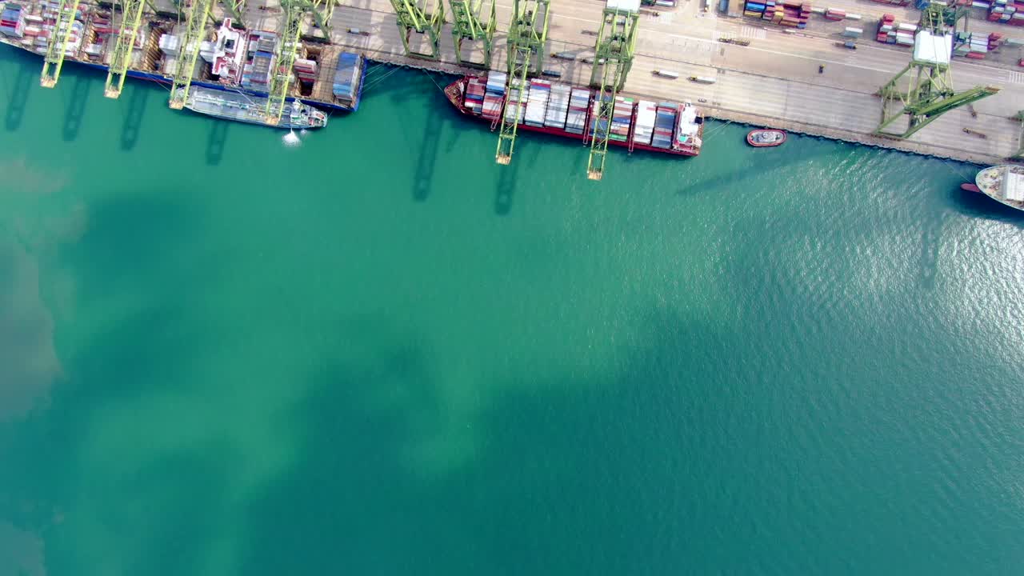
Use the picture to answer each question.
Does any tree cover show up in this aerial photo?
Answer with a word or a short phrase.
No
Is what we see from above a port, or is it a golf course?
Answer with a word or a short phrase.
port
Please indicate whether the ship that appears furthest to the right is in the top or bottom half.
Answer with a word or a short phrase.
top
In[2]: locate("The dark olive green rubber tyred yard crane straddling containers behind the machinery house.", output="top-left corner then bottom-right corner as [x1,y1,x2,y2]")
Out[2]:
[951,4,985,59]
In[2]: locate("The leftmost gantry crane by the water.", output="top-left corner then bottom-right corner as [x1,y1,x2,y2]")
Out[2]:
[36,0,142,88]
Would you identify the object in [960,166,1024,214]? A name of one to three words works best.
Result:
ship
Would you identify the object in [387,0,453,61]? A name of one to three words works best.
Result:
container crane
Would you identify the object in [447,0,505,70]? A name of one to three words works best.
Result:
container crane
